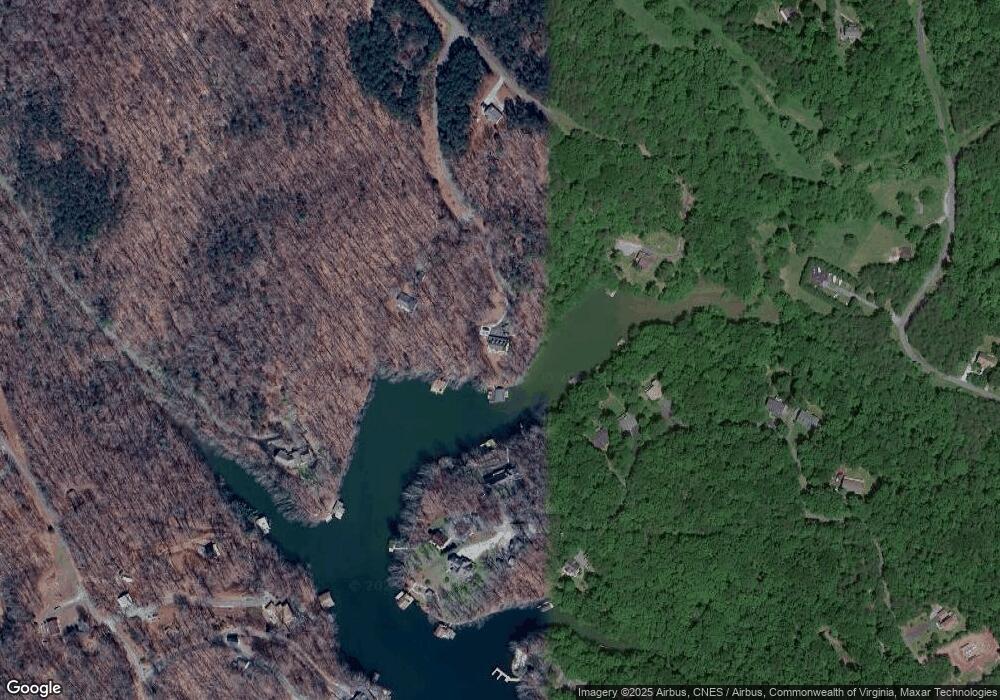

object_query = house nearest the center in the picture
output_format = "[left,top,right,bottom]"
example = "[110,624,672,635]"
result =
[488,337,509,355]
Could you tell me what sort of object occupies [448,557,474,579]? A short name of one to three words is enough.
house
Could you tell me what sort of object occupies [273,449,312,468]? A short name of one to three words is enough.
house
